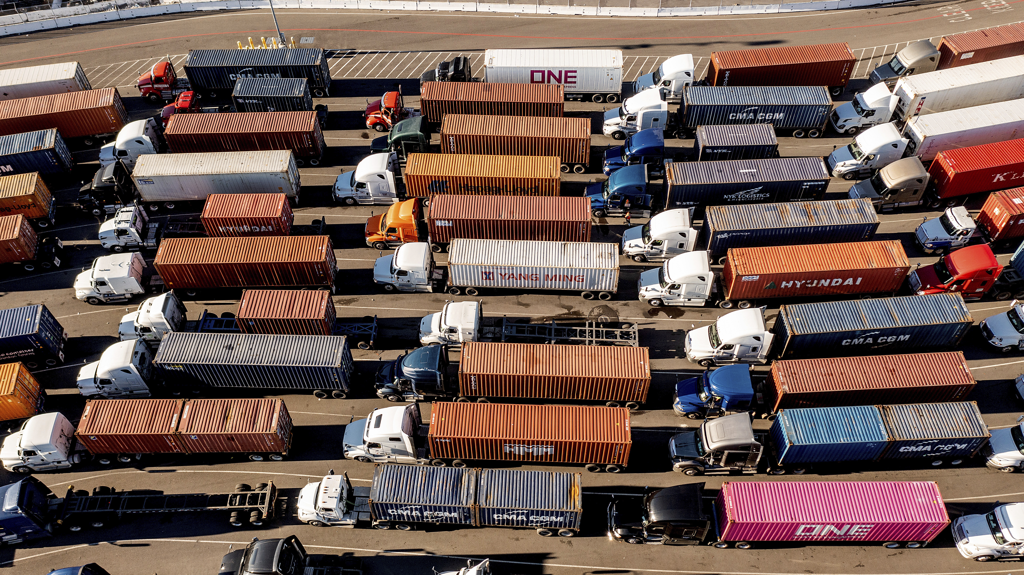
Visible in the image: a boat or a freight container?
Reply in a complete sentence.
I can see a freight container in this picture.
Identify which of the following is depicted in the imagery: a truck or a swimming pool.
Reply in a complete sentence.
I can see a truck in this picture.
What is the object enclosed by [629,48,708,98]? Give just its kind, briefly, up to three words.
truck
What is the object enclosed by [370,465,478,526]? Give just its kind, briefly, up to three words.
shipping container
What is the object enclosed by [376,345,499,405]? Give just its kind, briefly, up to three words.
truck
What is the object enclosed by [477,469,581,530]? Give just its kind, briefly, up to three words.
shipping container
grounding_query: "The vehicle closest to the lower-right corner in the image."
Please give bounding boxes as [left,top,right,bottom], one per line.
[952,500,1024,562]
